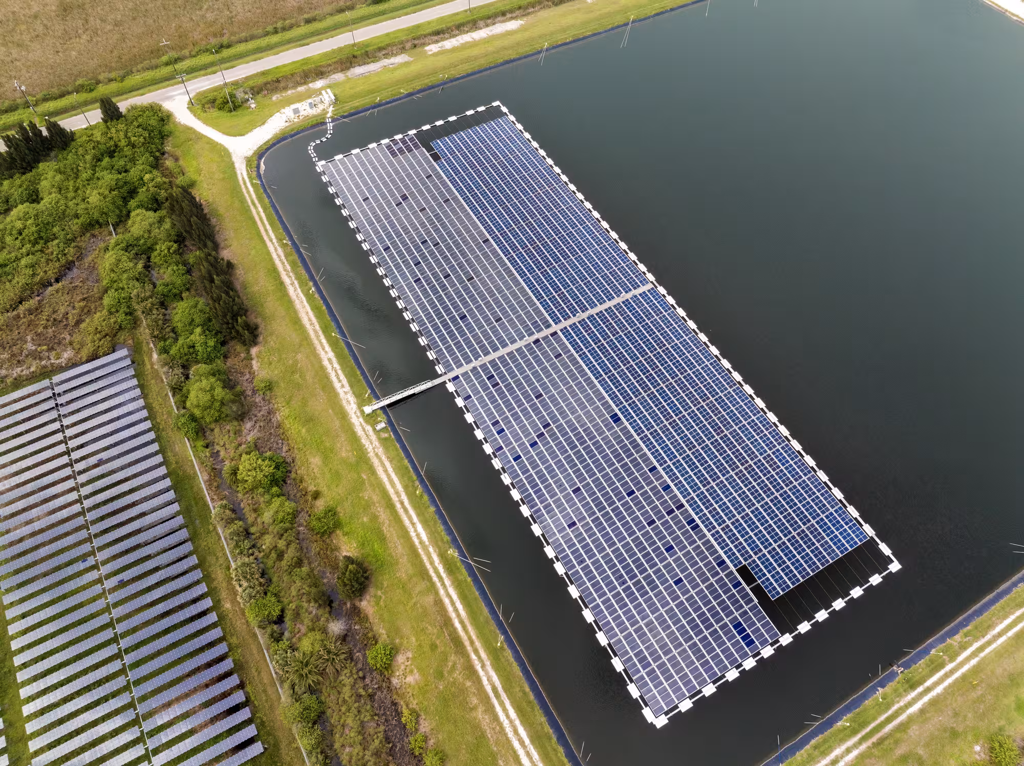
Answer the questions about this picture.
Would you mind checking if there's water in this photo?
Yes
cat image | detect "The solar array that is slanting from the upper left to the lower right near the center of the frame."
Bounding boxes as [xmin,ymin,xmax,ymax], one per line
[321,109,890,718]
